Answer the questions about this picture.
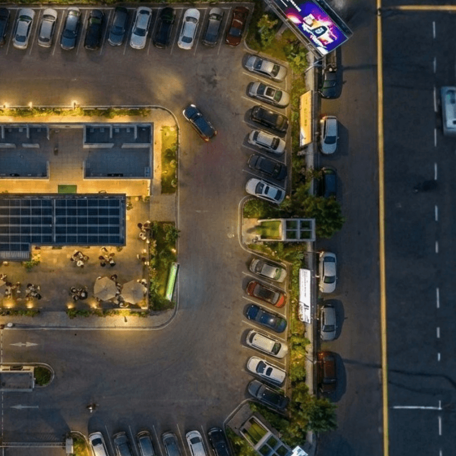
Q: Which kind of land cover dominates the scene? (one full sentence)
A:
The bulk of the photo consists of paved ground.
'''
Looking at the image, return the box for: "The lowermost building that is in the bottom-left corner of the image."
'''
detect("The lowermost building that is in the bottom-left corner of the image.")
[0,366,36,389]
